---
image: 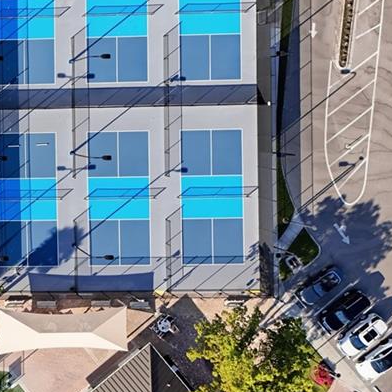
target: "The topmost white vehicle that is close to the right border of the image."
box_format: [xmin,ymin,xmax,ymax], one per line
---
[337,314,388,357]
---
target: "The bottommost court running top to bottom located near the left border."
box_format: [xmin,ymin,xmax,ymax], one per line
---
[0,132,64,267]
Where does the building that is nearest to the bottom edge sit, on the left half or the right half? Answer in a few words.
left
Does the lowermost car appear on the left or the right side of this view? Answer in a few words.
right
